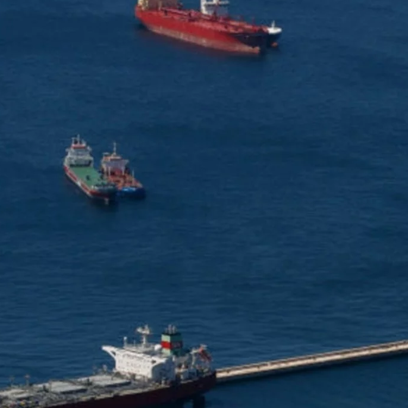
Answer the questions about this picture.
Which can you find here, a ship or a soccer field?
ship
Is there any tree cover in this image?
No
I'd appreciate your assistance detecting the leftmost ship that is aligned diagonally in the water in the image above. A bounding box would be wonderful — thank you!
[68,134,117,203]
